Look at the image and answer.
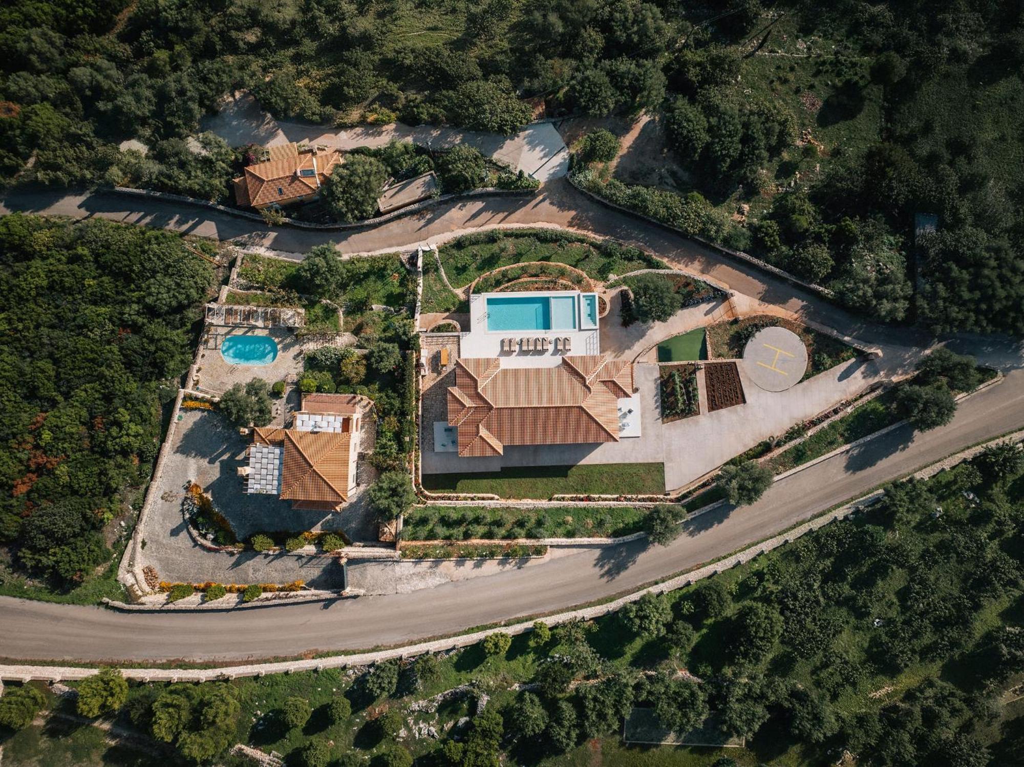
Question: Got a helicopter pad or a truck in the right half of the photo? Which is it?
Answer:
helicopter pad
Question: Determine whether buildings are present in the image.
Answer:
Yes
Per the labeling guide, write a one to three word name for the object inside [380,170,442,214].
building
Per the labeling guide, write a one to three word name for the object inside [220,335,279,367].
swimming pool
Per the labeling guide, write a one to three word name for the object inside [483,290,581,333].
swimming pool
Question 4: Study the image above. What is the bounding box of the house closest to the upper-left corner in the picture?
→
[232,142,346,211]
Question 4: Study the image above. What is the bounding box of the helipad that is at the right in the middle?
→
[742,327,807,391]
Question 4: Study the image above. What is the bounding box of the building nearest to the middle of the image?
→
[447,355,633,456]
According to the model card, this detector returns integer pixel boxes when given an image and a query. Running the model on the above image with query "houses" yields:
[232,142,346,211]
[235,392,379,512]
[447,355,633,456]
